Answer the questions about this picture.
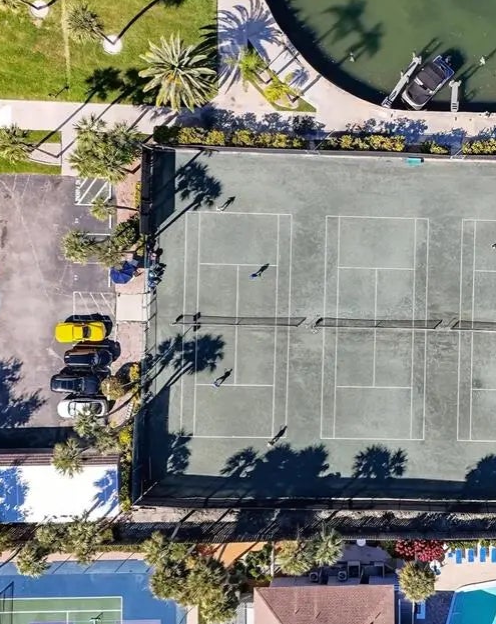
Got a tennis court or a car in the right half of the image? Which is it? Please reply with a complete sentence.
The feature located in the right half of the image is a tennis court.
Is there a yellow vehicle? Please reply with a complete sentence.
Yes, a yellow vehicle can be made out from above.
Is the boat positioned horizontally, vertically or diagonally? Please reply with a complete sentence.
The boat is laid out diagonally.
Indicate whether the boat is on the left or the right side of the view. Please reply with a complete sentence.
The boat sits on the right side.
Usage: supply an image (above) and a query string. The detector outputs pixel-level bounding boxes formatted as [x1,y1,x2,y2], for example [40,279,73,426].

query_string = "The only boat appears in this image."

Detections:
[411,52,456,108]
